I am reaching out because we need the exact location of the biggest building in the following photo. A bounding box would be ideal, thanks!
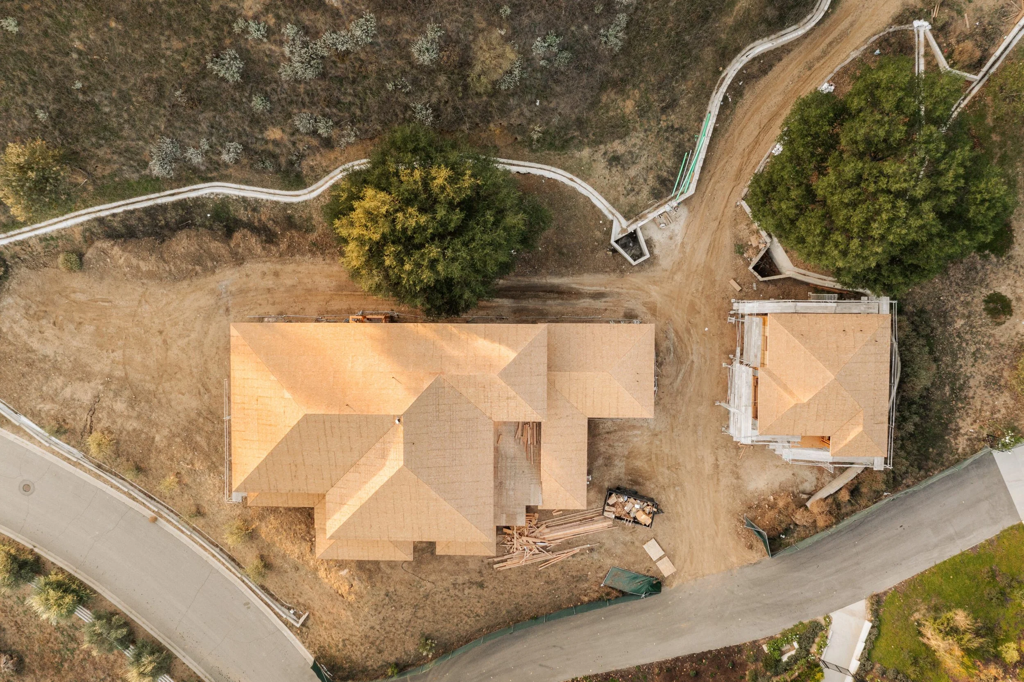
[230,313,655,561]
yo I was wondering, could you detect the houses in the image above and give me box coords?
[230,313,655,561]
[739,314,891,457]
